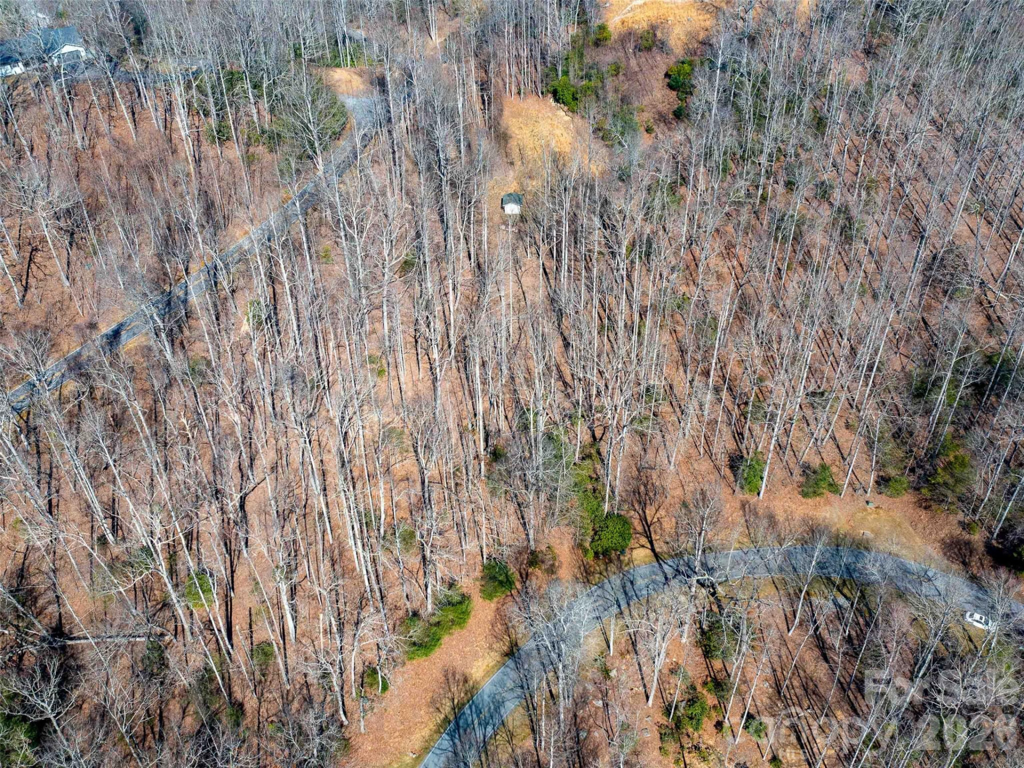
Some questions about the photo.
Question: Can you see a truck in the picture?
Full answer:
No, I can see no truck in this picture.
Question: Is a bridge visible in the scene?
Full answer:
No, the frame has no bridge in it.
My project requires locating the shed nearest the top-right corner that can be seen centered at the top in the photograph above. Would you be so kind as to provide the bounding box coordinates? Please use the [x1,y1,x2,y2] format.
[503,191,523,214]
